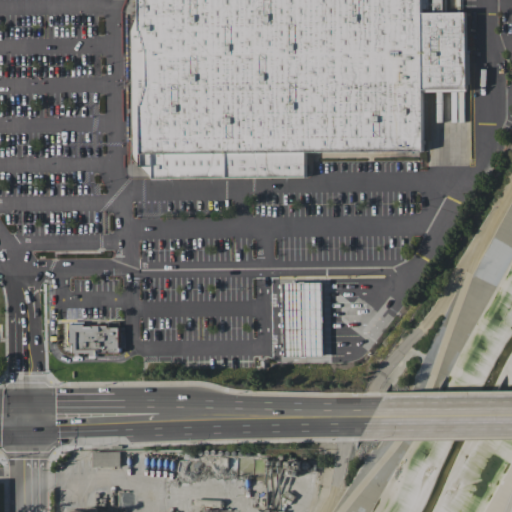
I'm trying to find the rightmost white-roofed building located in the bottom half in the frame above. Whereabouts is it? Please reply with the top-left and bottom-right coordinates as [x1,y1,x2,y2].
[285,283,324,357]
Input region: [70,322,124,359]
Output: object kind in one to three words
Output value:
building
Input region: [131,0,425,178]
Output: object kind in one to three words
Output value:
building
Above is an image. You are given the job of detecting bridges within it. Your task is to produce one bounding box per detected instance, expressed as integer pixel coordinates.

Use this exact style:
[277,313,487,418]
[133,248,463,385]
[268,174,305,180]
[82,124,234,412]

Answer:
[336,386,512,448]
